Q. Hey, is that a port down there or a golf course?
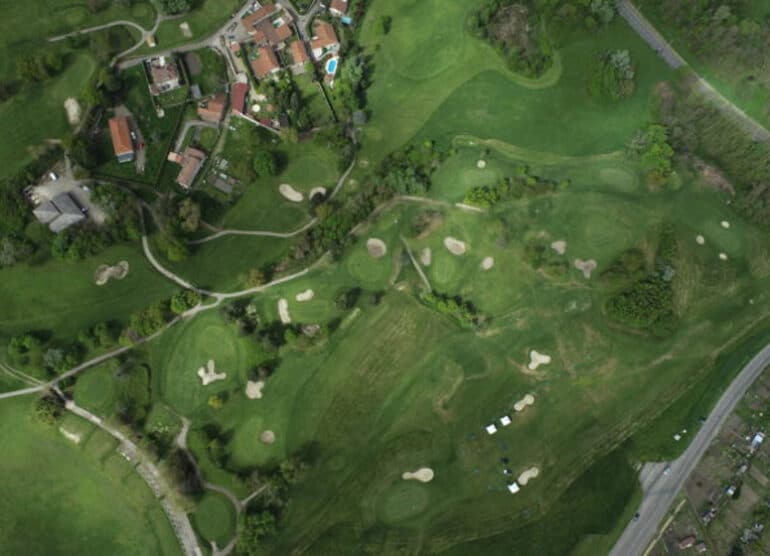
golf course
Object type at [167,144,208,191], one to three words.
house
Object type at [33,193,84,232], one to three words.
building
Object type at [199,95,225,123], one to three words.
house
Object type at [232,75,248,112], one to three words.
barn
